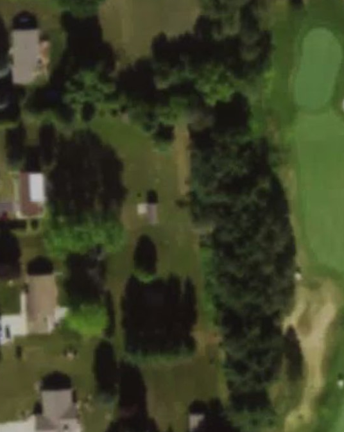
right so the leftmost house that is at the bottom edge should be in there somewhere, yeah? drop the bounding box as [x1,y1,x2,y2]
[34,390,80,432]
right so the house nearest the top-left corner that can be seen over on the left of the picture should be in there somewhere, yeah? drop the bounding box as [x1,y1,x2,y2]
[11,27,49,83]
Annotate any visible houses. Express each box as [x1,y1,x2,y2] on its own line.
[19,171,44,214]
[26,274,55,331]
[34,390,80,432]
[11,27,49,83]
